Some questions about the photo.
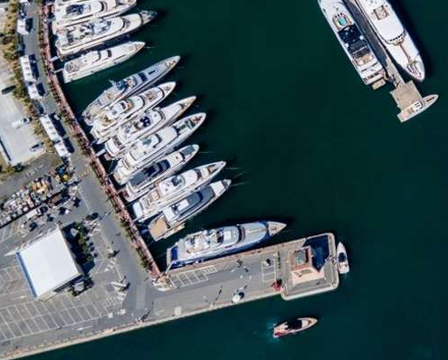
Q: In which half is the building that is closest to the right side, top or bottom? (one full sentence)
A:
The building that is closest to the right side sits in the bottom half of the picture.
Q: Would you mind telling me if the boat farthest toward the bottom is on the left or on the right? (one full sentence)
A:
The boat farthest toward the bottom is on the right side of the image.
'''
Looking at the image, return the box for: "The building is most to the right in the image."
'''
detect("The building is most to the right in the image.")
[286,245,324,286]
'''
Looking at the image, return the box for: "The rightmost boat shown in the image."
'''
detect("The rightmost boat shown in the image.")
[396,97,437,125]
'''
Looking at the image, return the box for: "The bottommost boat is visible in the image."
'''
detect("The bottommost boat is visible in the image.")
[272,319,316,342]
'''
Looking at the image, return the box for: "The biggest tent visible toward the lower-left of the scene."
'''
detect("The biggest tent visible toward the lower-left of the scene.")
[17,228,88,302]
